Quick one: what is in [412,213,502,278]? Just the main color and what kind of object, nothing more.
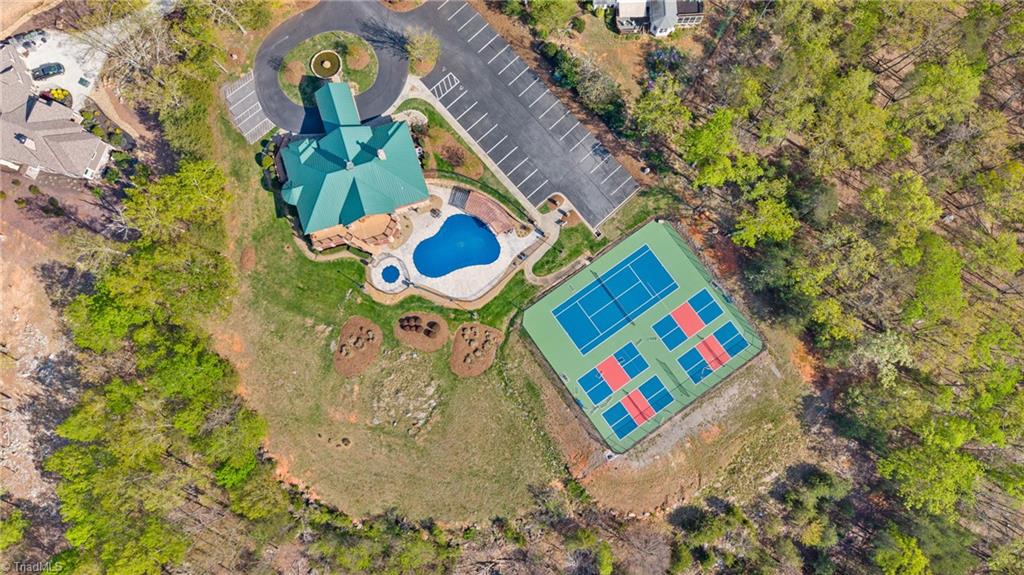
blue swimming pool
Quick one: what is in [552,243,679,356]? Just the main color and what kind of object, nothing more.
blue tennis court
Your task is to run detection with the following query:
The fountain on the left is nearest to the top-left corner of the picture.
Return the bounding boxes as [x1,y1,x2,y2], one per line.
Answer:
[310,47,343,80]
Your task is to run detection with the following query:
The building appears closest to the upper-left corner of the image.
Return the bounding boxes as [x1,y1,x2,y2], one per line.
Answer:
[0,20,118,180]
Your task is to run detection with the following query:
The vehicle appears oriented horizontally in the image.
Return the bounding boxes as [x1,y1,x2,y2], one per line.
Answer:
[33,64,65,80]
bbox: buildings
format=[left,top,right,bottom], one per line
[592,0,707,39]
[281,83,429,233]
[0,20,118,180]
